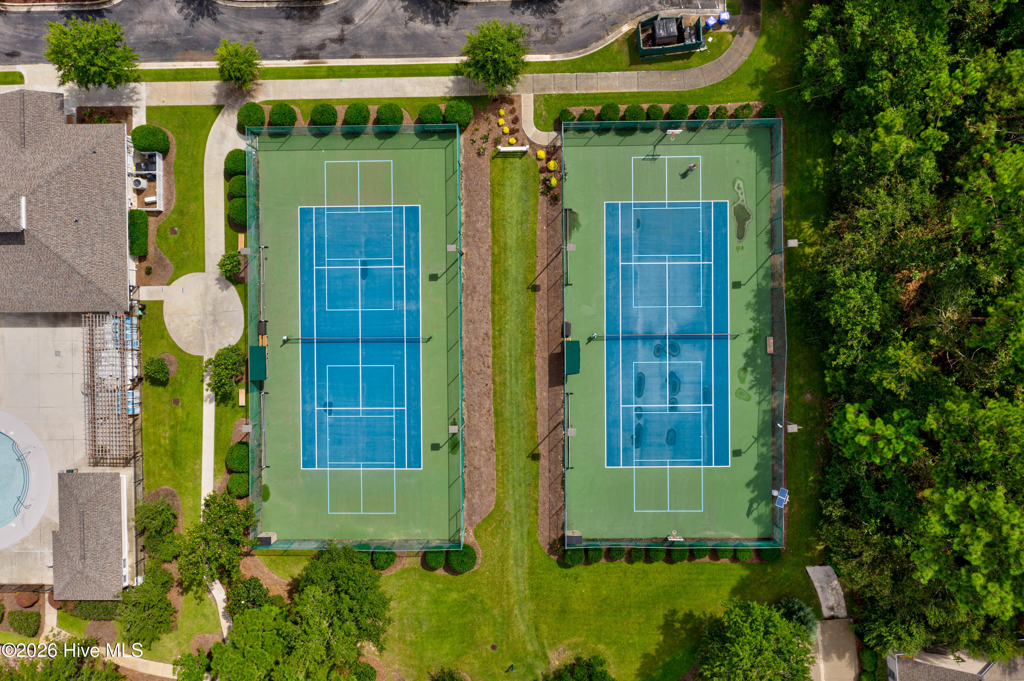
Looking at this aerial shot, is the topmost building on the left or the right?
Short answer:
left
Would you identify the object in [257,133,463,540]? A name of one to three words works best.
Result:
tennis court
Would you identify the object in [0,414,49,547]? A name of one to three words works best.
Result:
swimming pool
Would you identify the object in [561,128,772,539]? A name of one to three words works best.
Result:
tennis court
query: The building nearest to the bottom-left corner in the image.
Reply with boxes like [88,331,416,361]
[51,472,131,601]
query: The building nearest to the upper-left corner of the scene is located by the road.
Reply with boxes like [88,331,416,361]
[0,88,139,313]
